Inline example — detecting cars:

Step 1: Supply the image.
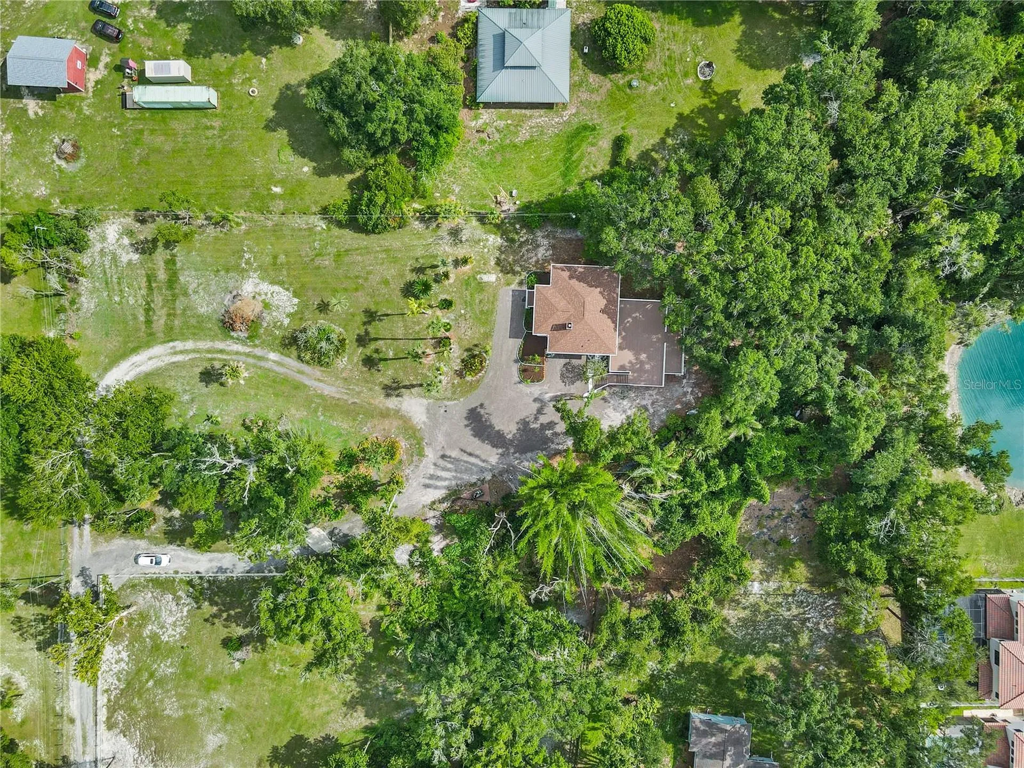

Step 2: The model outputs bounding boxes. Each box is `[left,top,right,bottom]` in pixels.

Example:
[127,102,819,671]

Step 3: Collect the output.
[89,0,123,20]
[92,21,127,44]
[135,552,172,567]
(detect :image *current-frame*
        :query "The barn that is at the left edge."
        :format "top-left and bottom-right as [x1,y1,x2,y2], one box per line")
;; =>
[7,40,87,96]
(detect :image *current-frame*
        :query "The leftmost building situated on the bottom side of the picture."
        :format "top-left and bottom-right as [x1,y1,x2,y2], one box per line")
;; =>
[684,708,778,768]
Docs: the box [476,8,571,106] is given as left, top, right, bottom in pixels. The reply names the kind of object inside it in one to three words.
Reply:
house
